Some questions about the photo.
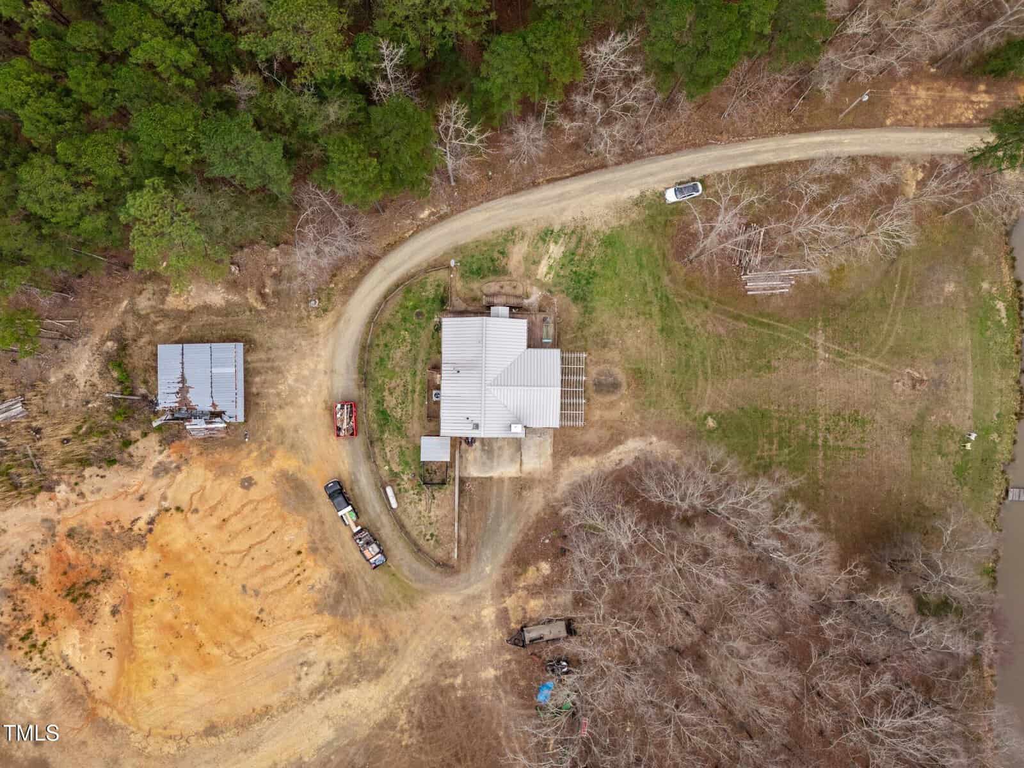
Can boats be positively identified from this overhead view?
No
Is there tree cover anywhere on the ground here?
Yes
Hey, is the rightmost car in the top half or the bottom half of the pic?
top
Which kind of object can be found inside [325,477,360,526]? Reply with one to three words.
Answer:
truck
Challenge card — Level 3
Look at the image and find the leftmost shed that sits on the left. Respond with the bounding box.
[158,343,252,422]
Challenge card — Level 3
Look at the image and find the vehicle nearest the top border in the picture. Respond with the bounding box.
[665,182,703,204]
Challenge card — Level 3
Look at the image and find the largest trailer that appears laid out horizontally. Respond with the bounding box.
[506,618,576,646]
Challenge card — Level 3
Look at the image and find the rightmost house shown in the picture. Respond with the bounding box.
[441,306,562,439]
